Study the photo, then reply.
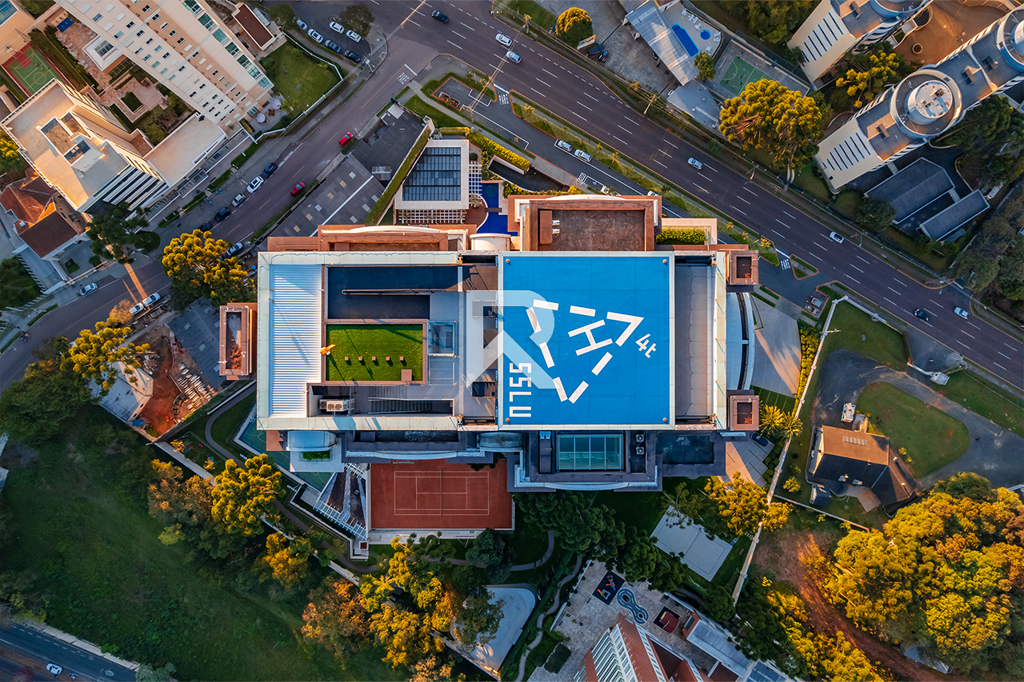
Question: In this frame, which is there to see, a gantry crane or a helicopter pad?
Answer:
helicopter pad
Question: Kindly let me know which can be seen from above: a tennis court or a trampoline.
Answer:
tennis court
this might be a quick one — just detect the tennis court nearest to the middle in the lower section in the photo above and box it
[371,457,514,527]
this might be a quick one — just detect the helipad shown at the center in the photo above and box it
[498,251,675,430]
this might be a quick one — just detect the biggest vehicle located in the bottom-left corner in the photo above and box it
[45,662,63,674]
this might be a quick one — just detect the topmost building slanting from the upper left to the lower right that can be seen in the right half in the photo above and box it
[623,0,700,89]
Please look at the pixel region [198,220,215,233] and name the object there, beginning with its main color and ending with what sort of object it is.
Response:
black vehicle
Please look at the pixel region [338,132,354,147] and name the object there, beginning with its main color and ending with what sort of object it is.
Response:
red car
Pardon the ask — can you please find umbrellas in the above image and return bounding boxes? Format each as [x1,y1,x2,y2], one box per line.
[256,114,266,123]
[272,100,281,110]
